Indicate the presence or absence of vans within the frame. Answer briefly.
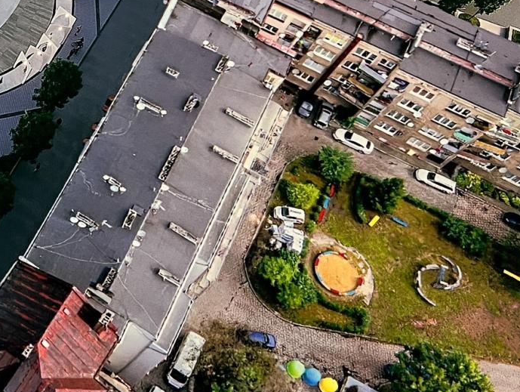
Yes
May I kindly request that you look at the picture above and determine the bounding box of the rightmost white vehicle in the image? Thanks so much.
[413,168,456,197]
